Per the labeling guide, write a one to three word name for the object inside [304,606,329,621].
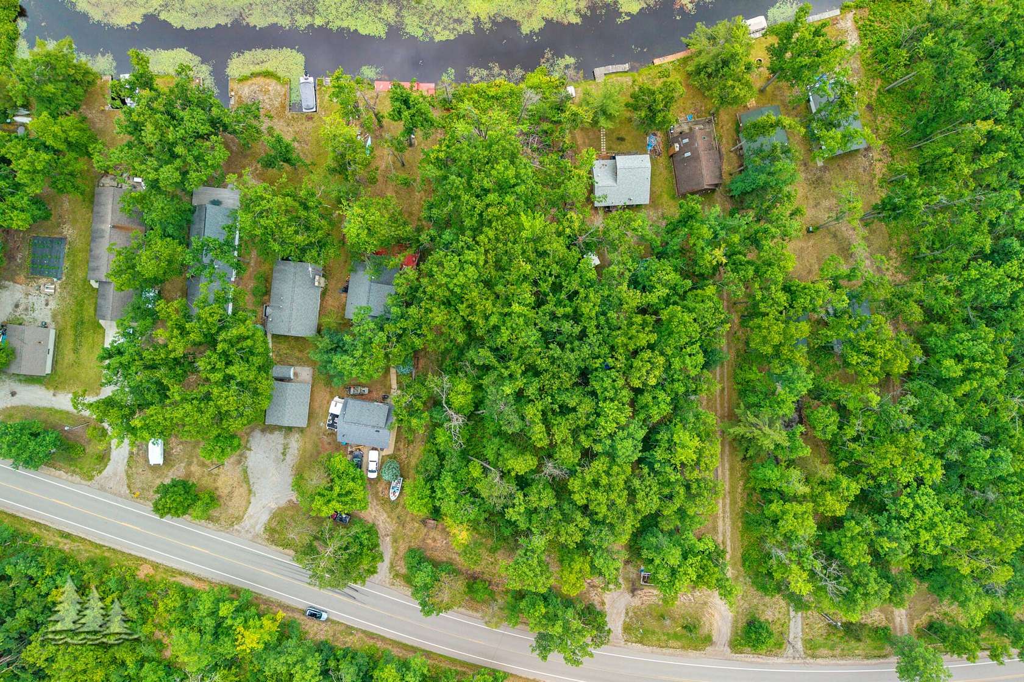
car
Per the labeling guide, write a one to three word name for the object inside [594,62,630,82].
pier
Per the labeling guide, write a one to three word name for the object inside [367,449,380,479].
vehicle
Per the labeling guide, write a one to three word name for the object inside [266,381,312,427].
building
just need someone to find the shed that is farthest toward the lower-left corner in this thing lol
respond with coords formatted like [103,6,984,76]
[0,324,58,375]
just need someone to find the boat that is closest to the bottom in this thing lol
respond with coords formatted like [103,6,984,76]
[391,474,404,502]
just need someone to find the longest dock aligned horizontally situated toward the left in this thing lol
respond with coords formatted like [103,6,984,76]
[375,80,435,95]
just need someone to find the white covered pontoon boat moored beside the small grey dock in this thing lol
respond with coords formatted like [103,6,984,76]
[740,15,766,34]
